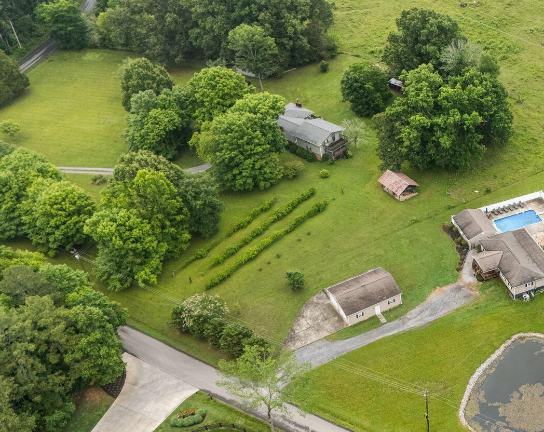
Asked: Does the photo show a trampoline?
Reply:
No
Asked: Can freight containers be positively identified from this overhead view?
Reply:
No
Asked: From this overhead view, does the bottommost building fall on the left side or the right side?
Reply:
right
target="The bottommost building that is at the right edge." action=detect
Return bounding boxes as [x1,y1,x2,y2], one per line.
[471,230,544,298]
